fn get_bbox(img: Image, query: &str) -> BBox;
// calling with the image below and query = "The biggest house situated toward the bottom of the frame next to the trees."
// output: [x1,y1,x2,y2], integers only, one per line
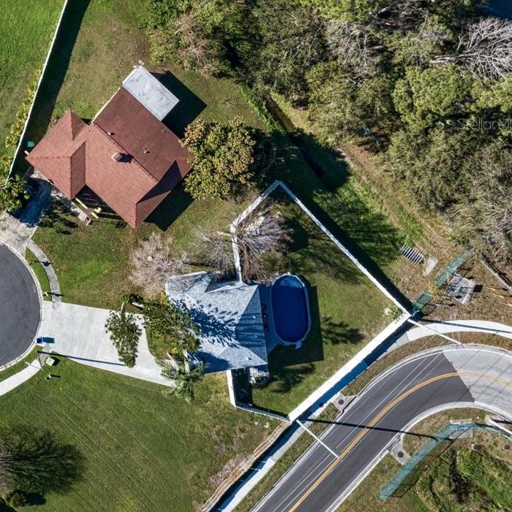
[160,270,269,374]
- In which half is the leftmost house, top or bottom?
top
